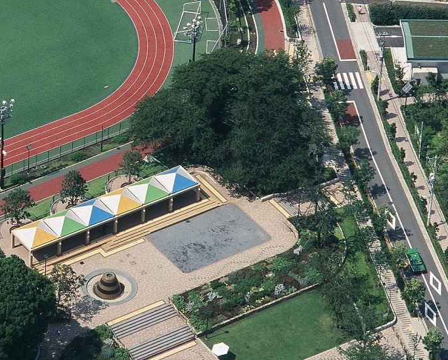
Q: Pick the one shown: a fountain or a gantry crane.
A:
fountain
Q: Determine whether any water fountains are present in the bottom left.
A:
Yes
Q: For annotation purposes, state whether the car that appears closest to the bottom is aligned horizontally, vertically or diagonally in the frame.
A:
diagonally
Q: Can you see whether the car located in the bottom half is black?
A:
No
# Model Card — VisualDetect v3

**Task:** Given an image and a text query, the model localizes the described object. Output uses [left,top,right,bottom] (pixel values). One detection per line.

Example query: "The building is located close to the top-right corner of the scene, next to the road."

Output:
[382,19,448,99]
